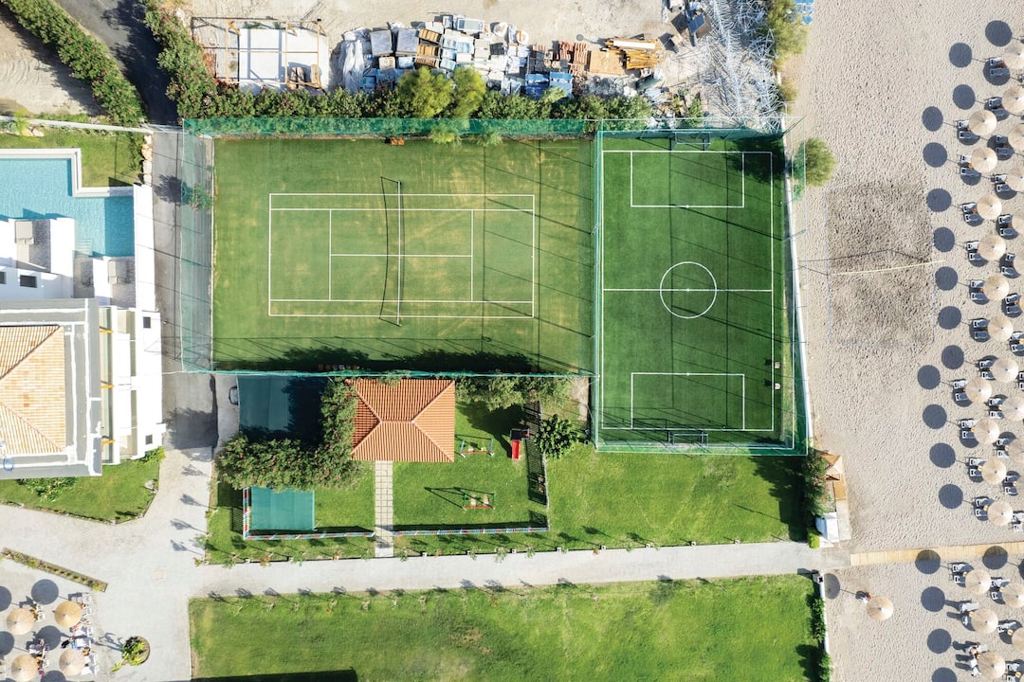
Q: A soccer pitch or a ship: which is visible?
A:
soccer pitch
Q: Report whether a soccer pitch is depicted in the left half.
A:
No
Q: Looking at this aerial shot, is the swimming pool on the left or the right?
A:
left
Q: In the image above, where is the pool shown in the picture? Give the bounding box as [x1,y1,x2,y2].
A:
[0,149,132,257]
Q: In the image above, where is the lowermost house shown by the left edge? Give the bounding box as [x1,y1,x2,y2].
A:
[0,184,171,478]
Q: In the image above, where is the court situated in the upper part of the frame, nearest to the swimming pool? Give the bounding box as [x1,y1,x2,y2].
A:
[215,135,593,369]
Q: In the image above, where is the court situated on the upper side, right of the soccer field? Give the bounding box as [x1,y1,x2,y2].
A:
[825,184,937,337]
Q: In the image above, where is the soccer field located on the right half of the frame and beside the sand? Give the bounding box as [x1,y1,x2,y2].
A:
[594,136,783,444]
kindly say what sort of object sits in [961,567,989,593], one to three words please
umbrella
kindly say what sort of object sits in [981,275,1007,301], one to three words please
umbrella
